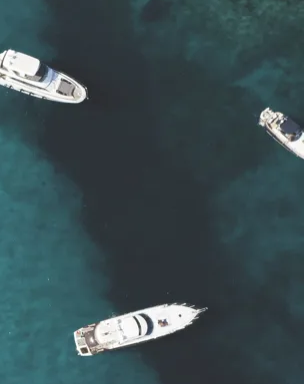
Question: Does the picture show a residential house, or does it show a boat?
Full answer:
The one in the frame is a boat.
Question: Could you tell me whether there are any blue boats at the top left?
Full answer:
No, the scene shows no blue boat at the top left.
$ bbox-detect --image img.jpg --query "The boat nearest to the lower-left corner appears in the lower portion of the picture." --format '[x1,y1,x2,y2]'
[68,304,207,359]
